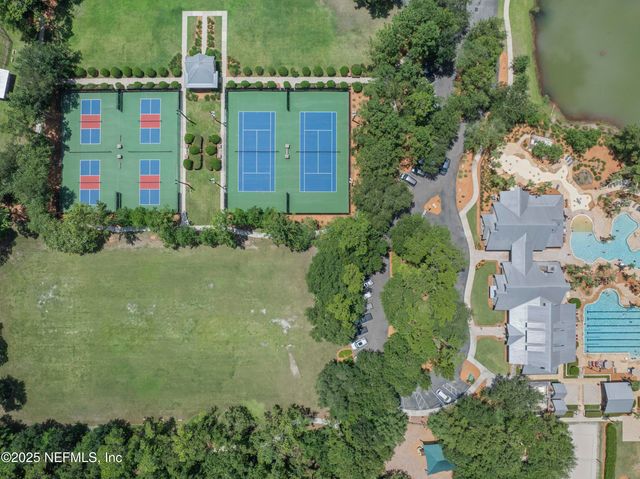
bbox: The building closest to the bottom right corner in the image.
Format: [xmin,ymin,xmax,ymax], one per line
[599,381,635,413]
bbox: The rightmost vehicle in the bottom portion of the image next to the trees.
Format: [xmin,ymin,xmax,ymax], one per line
[436,388,451,402]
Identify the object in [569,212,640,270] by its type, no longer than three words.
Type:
swimming pool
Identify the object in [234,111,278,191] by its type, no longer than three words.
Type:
tennis court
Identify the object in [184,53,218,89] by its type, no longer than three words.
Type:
gazebo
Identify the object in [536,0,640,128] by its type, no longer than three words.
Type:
pond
